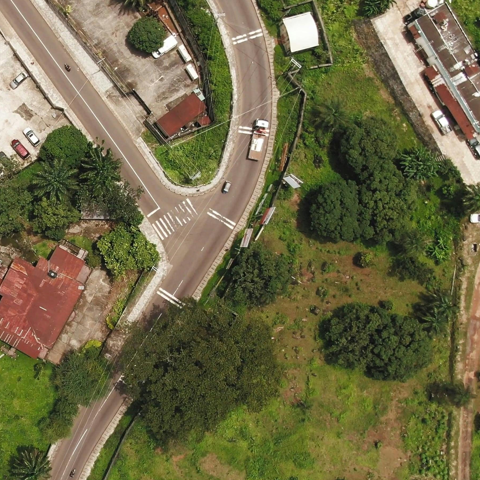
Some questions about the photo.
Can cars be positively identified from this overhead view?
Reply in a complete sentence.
Yes, the picture does show a car.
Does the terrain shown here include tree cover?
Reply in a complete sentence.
Yes, tree cover can be seen from above here.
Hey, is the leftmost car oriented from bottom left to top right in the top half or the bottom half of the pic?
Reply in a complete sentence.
You can find the leftmost car oriented from bottom left to top right in the top half.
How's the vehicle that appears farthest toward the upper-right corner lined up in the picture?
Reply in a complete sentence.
Seen from above, the vehicle that appears farthest toward the upper-right corner lies diagonally.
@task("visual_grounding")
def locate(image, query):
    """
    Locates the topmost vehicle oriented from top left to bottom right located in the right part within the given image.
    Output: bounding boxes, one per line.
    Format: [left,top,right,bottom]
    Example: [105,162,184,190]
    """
[430,110,454,135]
